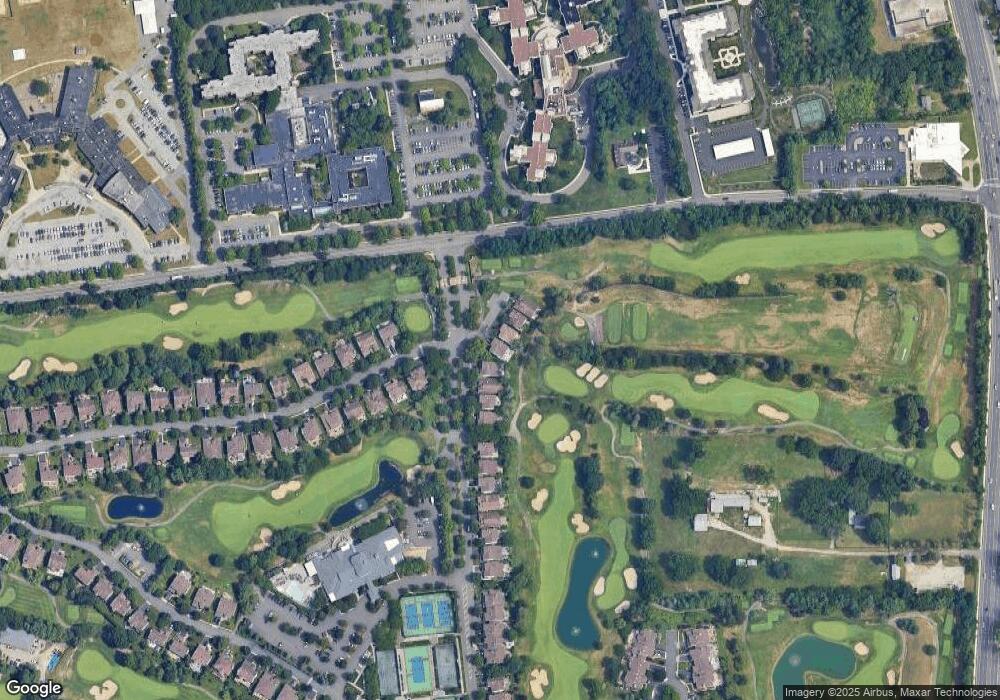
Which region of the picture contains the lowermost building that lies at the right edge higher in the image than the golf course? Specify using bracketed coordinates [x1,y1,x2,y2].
[911,123,970,176]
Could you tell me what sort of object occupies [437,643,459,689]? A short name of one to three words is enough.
tennis court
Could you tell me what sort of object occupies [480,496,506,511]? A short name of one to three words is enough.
house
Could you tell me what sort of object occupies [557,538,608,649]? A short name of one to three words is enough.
pond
